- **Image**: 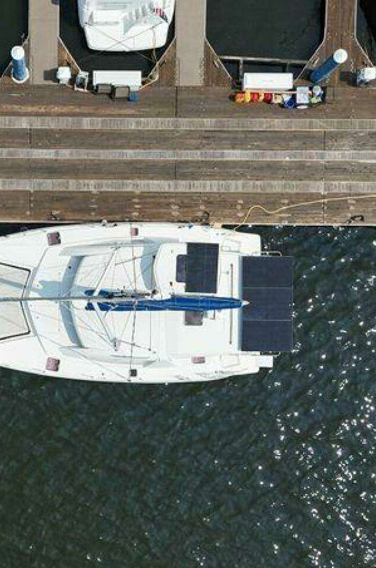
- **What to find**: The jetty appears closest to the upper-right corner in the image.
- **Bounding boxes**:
[293,0,376,87]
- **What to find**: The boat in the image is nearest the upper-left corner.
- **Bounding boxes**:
[78,0,174,52]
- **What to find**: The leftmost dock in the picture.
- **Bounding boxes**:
[0,0,77,85]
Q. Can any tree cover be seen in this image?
No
